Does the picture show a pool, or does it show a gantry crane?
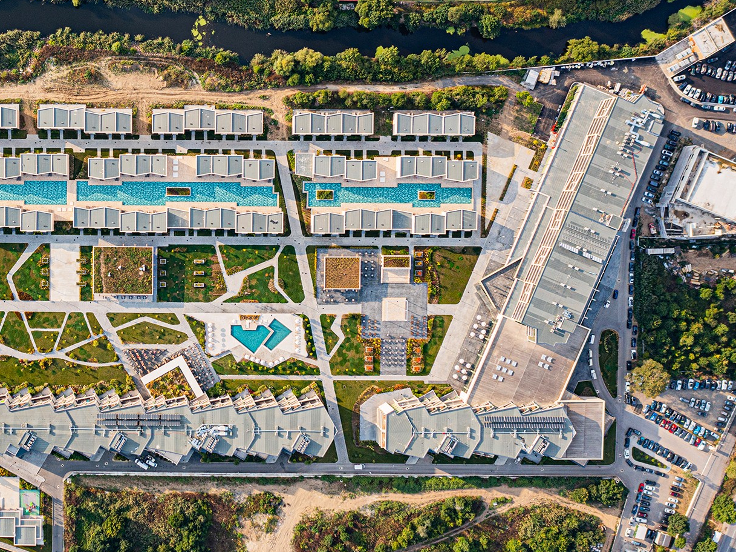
pool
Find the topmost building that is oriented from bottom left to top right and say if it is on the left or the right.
right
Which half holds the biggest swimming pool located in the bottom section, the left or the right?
left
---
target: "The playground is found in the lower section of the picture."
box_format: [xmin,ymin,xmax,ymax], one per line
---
[19,490,40,516]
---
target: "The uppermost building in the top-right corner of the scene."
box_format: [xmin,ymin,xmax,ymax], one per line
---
[649,18,735,80]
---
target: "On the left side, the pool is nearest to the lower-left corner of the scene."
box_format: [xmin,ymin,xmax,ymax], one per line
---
[230,325,271,353]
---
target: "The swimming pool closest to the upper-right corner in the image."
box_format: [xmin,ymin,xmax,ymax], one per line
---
[303,182,473,208]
